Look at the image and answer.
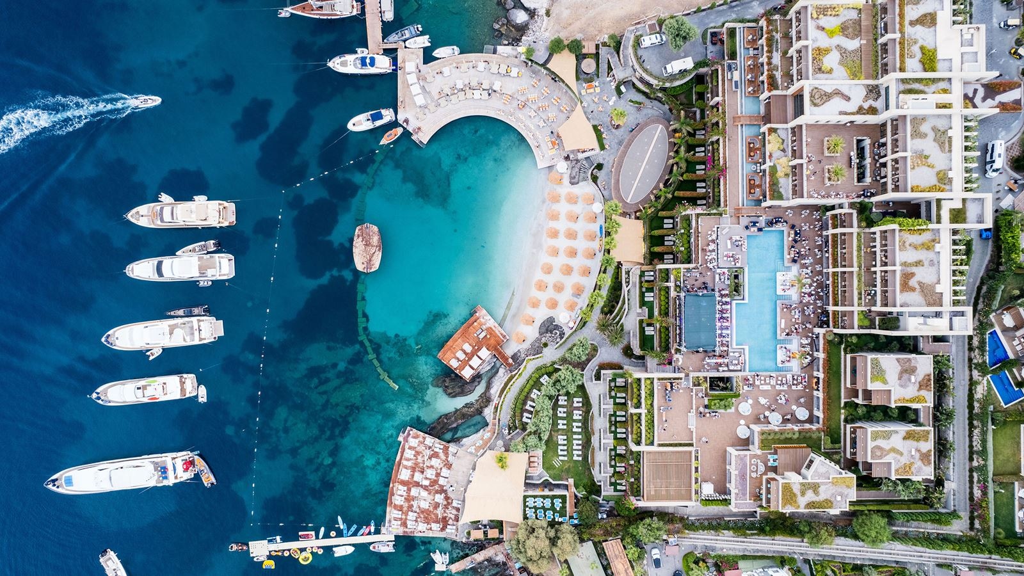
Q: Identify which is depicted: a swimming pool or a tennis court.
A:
swimming pool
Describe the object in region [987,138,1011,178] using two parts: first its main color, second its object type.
white bus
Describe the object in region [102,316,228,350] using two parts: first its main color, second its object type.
white boat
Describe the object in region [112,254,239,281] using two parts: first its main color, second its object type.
white boat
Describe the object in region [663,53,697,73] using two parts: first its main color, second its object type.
white vehicle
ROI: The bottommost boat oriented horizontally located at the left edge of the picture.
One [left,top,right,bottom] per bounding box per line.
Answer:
[45,447,203,493]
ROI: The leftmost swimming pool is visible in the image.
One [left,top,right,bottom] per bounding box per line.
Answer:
[714,220,800,375]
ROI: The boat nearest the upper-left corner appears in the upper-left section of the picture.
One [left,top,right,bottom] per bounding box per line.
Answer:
[126,96,162,108]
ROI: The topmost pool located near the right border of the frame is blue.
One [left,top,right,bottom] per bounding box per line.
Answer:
[984,327,1007,370]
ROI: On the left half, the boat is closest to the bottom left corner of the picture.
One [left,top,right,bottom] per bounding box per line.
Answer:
[97,546,125,576]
